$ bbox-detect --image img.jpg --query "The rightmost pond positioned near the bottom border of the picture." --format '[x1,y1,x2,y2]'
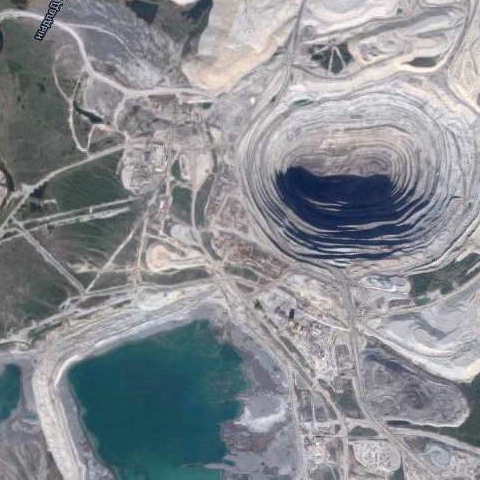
[68,317,249,480]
